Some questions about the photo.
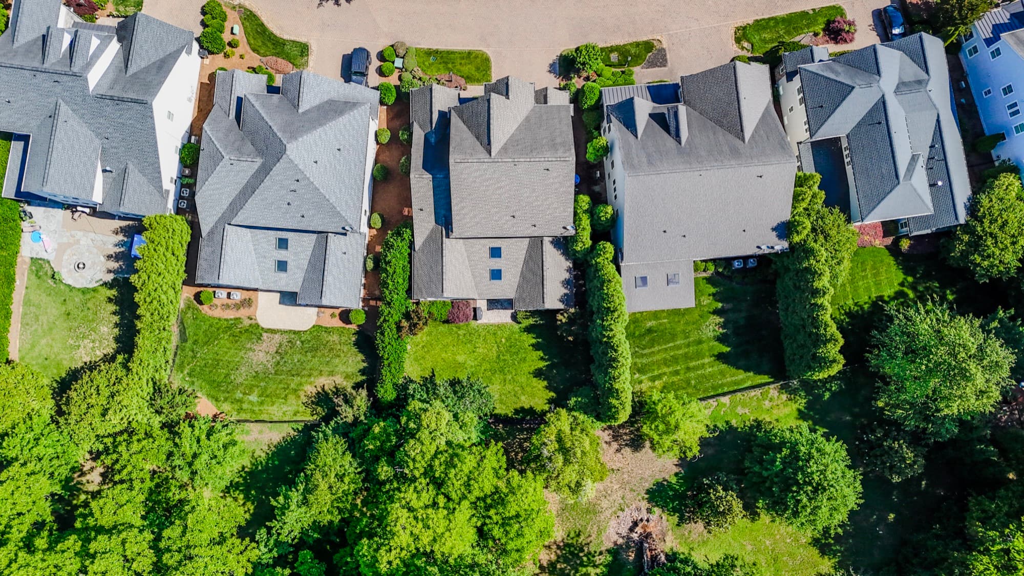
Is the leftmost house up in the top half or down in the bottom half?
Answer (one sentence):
Seen from above, the leftmost house lies in the top half of the view.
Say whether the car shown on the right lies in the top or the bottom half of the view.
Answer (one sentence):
The car shown on the right sits in the top half of the picture.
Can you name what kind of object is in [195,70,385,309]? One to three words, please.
house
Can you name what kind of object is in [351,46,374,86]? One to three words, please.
car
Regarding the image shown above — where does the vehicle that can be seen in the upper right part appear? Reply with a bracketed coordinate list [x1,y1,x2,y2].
[878,1,908,46]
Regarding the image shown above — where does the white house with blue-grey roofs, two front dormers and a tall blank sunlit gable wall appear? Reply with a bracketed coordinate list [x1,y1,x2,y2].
[0,0,207,218]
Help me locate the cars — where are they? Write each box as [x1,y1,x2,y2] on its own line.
[351,46,374,86]
[878,1,908,46]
